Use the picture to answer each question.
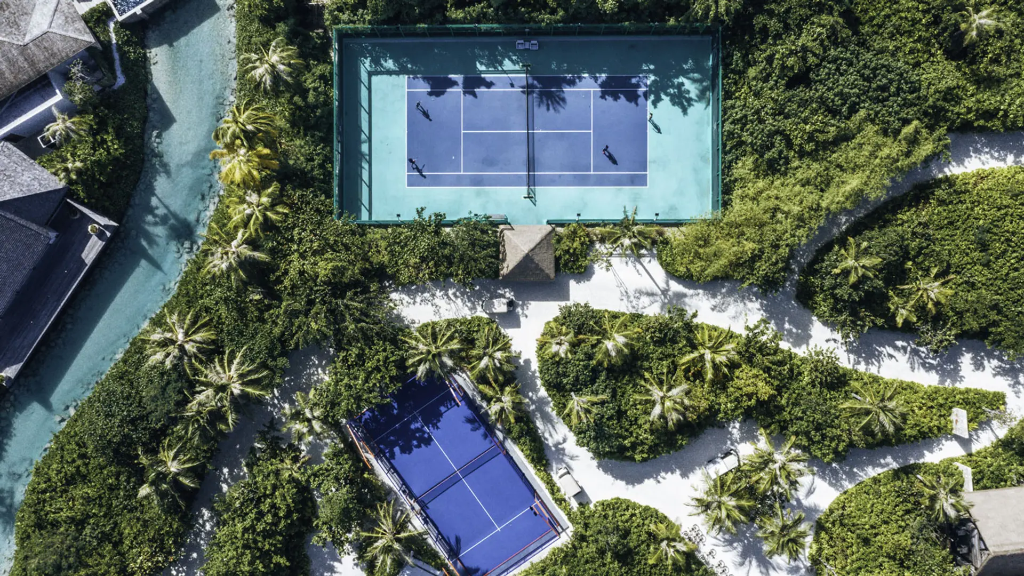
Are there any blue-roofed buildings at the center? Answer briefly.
No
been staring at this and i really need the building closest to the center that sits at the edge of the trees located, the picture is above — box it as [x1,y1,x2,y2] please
[499,225,555,281]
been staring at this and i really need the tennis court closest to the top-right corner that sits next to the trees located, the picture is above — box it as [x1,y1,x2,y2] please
[343,38,713,224]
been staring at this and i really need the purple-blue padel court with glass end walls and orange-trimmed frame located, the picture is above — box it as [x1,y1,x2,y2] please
[345,360,569,576]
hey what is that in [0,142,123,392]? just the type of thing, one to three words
house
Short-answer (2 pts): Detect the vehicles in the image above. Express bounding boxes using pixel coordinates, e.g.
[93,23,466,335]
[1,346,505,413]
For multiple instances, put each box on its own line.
[554,464,581,496]
[482,299,511,312]
[702,448,737,478]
